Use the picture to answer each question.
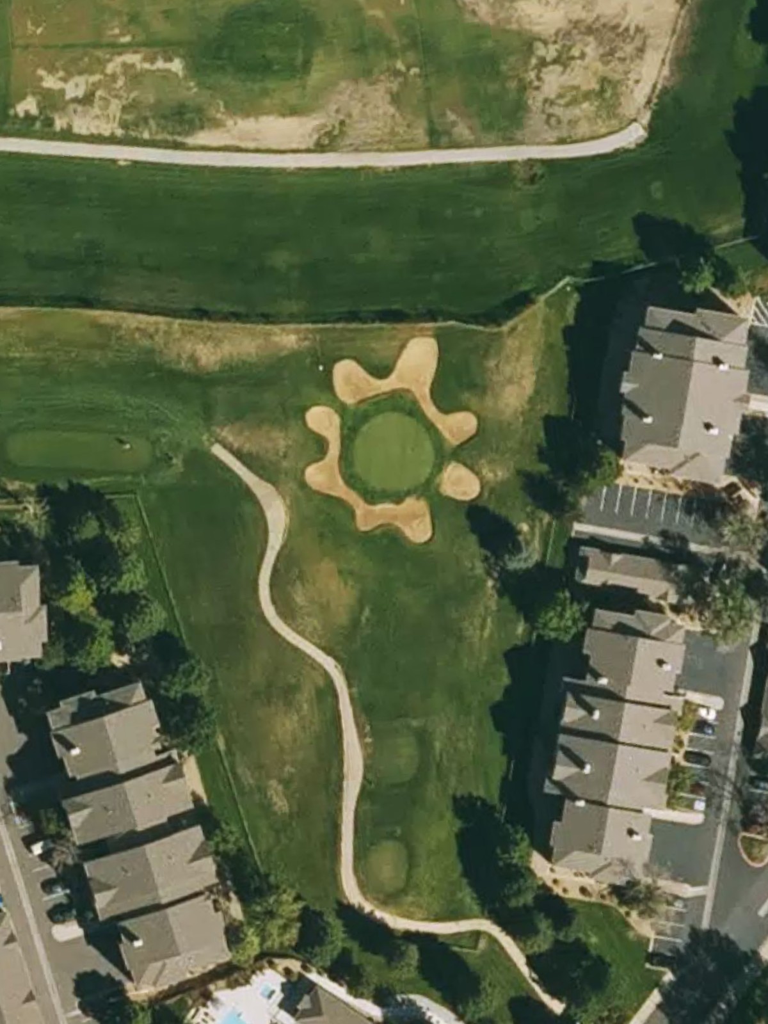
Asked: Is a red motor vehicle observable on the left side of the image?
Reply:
No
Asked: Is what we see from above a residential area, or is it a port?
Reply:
residential area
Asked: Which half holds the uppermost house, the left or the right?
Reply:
right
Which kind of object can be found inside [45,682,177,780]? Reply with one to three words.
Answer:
house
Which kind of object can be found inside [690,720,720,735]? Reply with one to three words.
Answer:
car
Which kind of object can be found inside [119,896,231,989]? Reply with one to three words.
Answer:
house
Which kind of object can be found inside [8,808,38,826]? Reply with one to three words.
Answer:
car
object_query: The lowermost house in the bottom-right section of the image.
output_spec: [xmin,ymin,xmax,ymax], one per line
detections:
[551,800,655,885]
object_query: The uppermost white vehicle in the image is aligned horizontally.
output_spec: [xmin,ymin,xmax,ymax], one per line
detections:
[689,705,718,721]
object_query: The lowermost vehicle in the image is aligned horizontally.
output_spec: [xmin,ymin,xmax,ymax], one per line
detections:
[647,953,677,968]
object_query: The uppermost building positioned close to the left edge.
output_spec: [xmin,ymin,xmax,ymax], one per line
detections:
[0,561,46,663]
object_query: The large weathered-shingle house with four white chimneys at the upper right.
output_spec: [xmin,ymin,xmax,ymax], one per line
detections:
[619,306,753,485]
